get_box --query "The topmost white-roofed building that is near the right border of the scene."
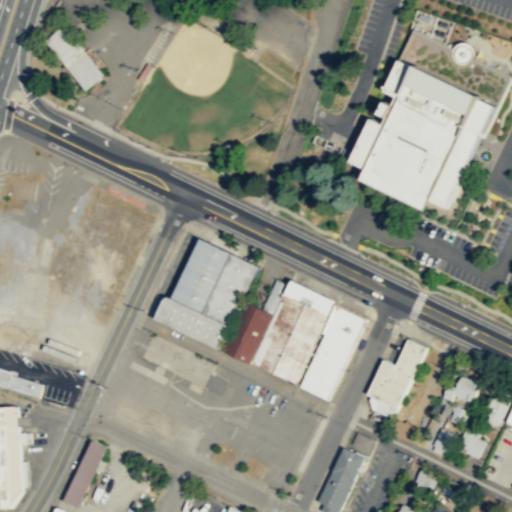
[347,10,512,210]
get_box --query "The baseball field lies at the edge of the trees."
[124,23,290,150]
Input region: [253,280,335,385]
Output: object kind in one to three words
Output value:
building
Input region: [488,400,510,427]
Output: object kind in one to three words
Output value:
house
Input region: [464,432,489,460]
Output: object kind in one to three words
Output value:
house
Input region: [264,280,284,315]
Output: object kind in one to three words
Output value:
shed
